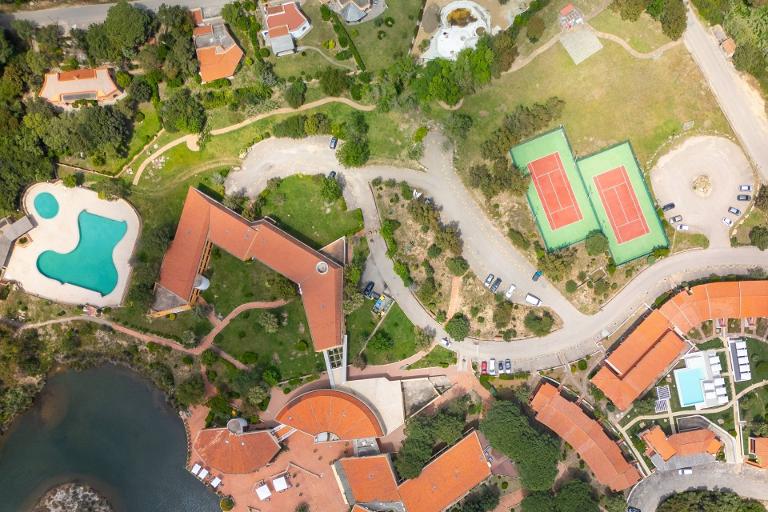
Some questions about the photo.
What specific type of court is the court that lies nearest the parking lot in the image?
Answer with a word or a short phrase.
tennis court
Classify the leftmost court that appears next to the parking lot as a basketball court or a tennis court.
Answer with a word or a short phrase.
tennis court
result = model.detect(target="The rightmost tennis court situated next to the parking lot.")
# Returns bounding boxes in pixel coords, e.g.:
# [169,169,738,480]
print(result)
[578,140,673,266]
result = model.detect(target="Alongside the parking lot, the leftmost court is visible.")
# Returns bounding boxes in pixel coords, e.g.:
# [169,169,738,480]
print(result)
[512,125,607,252]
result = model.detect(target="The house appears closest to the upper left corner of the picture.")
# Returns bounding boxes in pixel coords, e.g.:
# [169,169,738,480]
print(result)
[38,67,128,105]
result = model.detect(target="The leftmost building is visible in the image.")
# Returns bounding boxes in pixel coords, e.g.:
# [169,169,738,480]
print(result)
[0,216,38,269]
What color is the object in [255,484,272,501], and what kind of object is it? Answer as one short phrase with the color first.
white umbrella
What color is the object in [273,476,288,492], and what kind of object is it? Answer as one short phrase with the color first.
white umbrella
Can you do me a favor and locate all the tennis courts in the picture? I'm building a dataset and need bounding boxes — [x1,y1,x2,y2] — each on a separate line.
[578,140,673,266]
[512,125,607,252]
